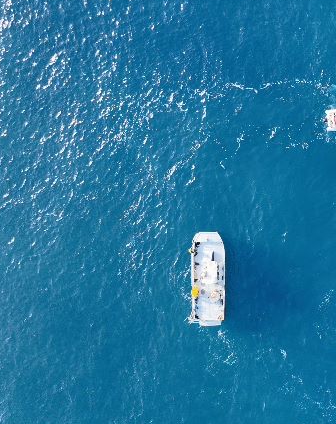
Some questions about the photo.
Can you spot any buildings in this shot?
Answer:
No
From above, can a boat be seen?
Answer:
Yes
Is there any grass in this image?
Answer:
No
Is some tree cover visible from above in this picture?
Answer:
No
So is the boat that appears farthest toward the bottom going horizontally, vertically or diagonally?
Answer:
vertically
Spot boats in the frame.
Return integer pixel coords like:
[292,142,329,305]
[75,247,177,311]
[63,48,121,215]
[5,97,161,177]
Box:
[321,109,336,132]
[189,233,227,327]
